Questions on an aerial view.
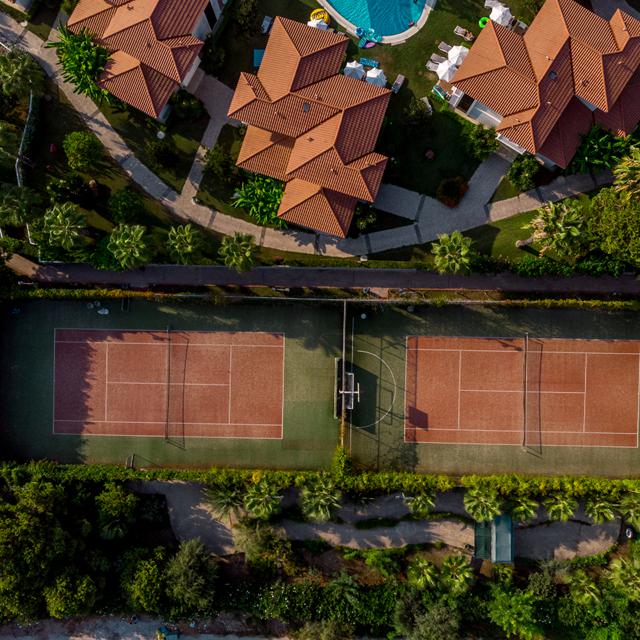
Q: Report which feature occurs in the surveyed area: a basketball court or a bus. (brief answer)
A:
basketball court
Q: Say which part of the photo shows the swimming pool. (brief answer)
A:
top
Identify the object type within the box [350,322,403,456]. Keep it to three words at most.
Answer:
basketball court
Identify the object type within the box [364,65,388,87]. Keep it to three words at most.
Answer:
umbrella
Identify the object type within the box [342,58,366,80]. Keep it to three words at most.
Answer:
umbrella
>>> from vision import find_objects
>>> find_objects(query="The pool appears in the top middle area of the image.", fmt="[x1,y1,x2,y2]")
[322,0,437,44]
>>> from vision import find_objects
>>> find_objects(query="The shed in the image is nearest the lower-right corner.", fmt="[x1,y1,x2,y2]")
[471,509,518,569]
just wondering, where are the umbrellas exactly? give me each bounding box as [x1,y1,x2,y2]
[364,65,388,87]
[433,58,459,84]
[342,58,366,80]
[445,43,468,68]
[489,3,513,27]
